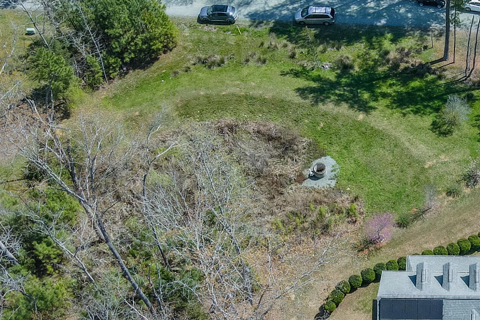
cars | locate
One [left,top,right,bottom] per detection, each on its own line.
[414,0,442,8]
[461,0,480,13]
[293,2,336,24]
[197,4,238,24]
